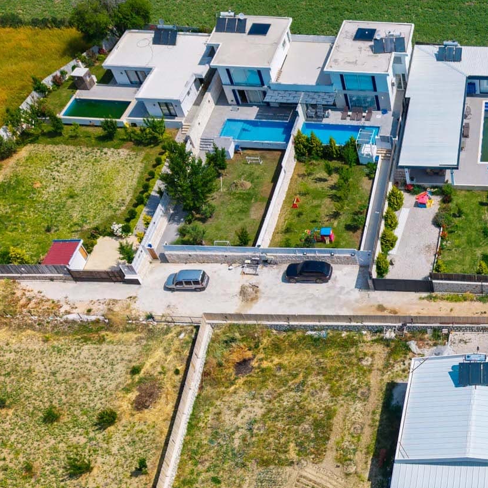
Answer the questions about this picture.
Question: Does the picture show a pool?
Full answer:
Yes, I can see a pool in this picture.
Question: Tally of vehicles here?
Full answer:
Altogether the scene contains 2 vehicles.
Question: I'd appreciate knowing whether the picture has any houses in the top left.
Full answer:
Yes, you'll find a house in the top left.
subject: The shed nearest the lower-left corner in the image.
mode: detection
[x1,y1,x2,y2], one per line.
[43,237,89,263]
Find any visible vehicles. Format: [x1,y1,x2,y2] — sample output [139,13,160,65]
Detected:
[163,269,212,293]
[284,261,334,284]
